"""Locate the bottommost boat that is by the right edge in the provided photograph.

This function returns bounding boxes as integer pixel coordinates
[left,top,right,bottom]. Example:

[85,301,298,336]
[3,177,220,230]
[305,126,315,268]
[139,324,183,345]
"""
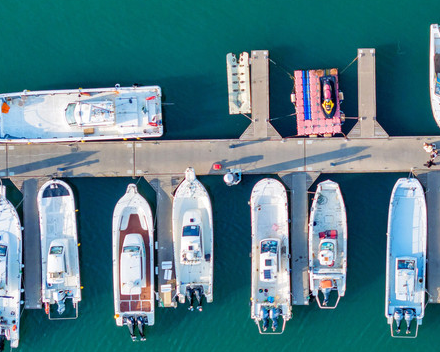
[385,178,428,338]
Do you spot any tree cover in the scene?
No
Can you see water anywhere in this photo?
Yes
